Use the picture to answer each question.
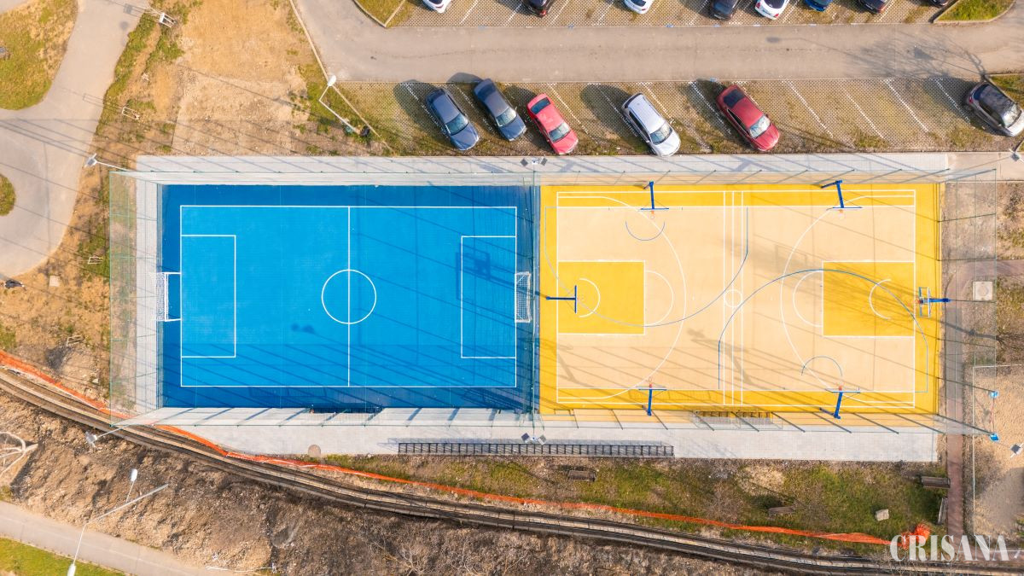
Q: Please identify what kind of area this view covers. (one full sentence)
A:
The area seen from above is a sports ground.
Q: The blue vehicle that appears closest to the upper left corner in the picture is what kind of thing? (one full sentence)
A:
The blue vehicle that appears closest to the upper left corner appears to be a car.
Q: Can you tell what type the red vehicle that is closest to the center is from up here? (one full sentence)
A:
It looks like the red vehicle that is closest to the center is a car.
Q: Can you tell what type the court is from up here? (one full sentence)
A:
The court appears to be a basketball court.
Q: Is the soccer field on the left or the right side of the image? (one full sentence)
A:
It is on the left.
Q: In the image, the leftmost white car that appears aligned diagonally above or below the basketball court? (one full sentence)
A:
As seen from overhead, the leftmost white car that appears aligned diagonally falls above the basketball court in the picture.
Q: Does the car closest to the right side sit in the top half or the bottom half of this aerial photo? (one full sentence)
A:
You can find the car closest to the right side in the top half.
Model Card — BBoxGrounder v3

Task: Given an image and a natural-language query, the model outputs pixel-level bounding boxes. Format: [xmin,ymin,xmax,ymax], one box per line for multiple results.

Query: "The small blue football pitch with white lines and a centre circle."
[161,185,539,413]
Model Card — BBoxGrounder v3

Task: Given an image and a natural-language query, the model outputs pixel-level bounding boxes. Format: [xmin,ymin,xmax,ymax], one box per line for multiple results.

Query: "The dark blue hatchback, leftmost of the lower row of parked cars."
[427,88,478,151]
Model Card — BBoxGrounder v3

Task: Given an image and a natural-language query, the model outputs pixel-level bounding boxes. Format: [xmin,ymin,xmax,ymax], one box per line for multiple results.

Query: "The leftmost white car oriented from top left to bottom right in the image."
[626,93,683,159]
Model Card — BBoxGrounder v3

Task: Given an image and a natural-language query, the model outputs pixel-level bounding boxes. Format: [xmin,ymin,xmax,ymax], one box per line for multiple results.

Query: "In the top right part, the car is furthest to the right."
[967,79,1024,142]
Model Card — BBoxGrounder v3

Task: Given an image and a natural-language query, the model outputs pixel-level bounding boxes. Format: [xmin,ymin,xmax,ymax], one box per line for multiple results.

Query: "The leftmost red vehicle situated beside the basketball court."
[529,93,579,158]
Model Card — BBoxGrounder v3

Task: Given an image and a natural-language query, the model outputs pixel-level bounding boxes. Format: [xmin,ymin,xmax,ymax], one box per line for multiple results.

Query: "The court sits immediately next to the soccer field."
[539,174,944,423]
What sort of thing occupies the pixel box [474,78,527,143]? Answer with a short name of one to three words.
car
